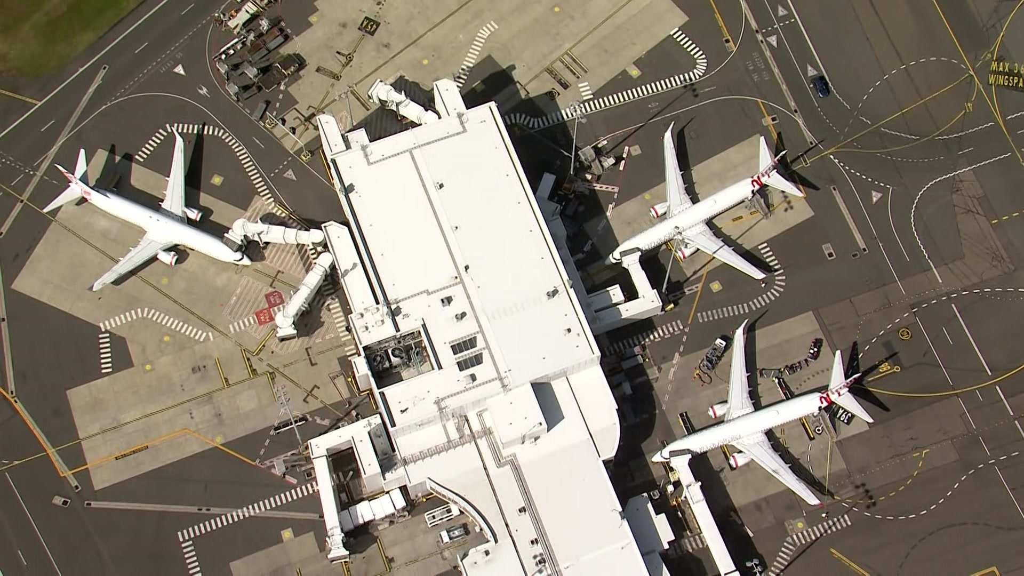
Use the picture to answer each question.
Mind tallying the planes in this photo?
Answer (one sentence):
I count 3 planes.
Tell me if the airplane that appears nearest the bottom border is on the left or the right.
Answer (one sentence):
You can find the airplane that appears nearest the bottom border on the right side of the picture.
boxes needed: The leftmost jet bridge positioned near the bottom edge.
[311,458,351,562]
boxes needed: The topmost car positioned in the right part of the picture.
[814,76,828,96]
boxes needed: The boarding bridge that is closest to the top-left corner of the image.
[223,217,327,258]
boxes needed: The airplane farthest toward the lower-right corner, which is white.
[652,319,874,505]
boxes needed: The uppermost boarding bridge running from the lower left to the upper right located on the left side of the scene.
[275,254,334,345]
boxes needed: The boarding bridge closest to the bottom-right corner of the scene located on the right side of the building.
[669,449,737,576]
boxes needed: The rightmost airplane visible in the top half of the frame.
[604,121,805,279]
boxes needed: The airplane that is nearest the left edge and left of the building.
[44,126,253,292]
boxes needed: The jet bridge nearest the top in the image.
[368,79,440,125]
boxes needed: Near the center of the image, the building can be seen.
[308,79,675,576]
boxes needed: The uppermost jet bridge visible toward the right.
[620,249,651,300]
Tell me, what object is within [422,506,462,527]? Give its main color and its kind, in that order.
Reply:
white truck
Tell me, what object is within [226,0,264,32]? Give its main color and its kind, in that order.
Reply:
white truck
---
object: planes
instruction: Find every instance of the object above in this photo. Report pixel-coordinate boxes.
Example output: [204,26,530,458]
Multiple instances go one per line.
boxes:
[652,319,874,505]
[44,126,253,292]
[604,121,805,279]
